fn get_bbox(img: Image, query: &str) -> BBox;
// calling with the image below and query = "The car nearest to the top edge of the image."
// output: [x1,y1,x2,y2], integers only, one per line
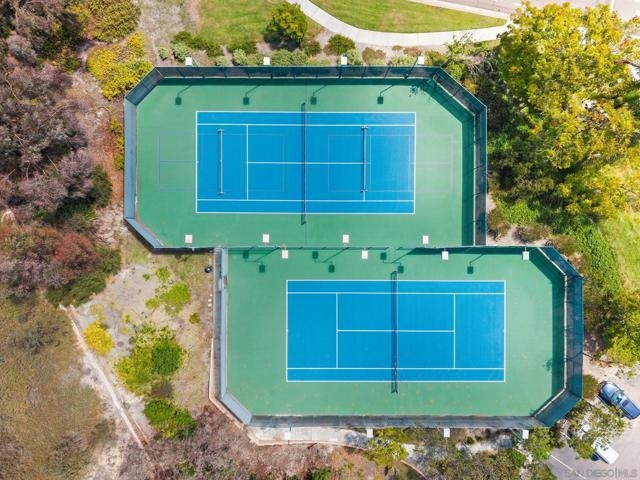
[598,378,640,420]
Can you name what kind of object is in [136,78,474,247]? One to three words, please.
tennis court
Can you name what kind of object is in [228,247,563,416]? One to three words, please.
tennis court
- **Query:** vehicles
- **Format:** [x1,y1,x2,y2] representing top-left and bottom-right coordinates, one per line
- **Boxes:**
[574,424,621,466]
[598,378,640,420]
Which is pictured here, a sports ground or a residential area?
sports ground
